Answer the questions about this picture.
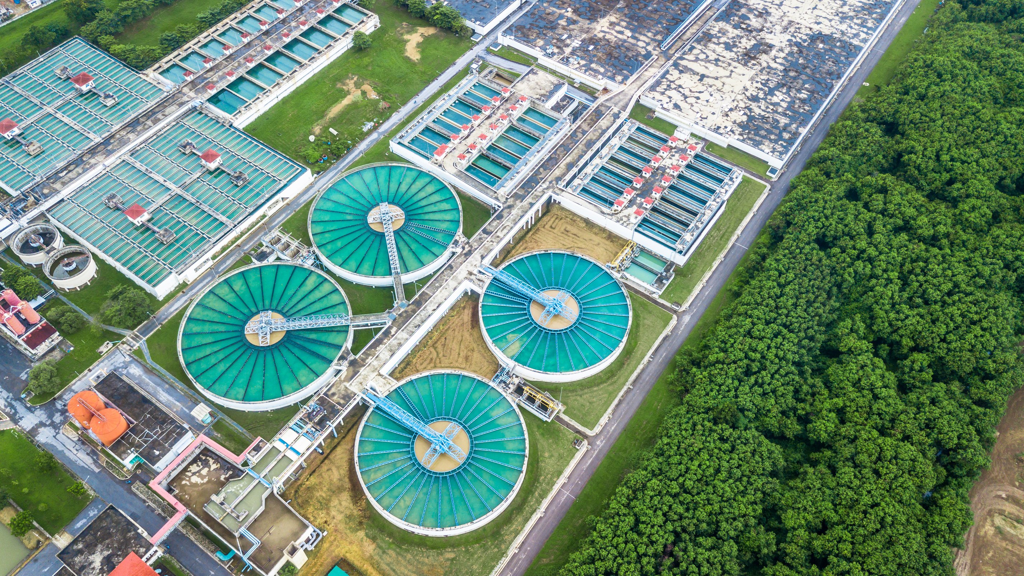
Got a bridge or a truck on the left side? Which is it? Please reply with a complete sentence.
The one visible on the left side is a bridge.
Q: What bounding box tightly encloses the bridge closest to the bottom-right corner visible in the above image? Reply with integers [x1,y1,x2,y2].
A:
[487,265,578,323]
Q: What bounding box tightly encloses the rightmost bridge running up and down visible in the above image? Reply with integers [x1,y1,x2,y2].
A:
[367,198,406,275]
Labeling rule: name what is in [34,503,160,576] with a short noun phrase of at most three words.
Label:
building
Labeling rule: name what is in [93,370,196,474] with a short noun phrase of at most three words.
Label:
building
